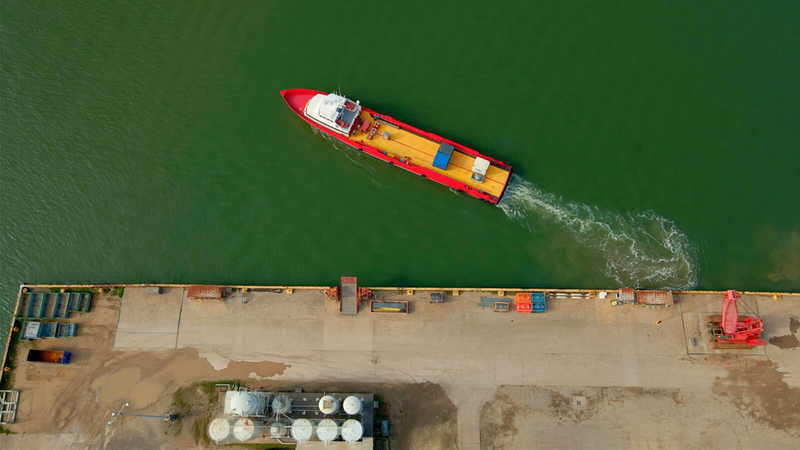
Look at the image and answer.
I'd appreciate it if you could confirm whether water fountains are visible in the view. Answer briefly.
No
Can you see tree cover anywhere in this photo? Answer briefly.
No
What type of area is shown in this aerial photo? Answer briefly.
port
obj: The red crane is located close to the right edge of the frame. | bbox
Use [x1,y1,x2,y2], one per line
[705,290,769,349]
